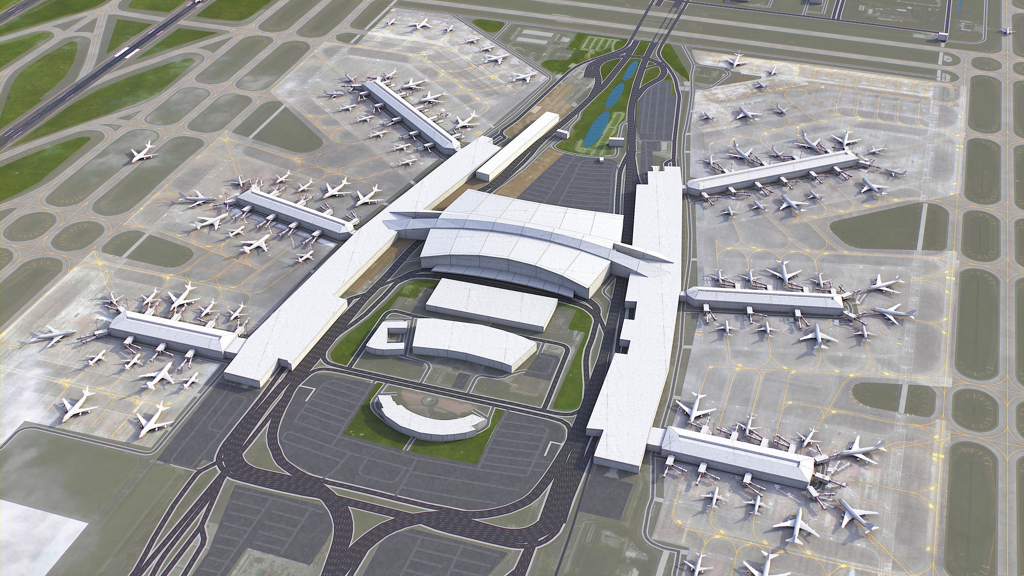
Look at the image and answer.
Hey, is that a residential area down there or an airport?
airport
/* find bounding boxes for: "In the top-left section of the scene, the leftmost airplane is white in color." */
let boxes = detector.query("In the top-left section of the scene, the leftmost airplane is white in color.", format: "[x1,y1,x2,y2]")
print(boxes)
[131,141,158,163]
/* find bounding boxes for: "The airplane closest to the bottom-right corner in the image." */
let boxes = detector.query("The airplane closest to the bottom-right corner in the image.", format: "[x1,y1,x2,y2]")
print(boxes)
[839,498,879,531]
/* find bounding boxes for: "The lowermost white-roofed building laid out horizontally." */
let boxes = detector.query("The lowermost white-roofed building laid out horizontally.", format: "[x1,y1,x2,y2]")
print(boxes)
[378,395,486,441]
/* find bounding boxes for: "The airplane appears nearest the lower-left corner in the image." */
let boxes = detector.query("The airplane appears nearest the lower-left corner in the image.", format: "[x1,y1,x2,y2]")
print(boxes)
[62,388,99,422]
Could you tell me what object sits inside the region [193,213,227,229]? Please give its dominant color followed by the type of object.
white airplane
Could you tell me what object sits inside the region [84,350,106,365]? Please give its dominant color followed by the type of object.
white airplane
